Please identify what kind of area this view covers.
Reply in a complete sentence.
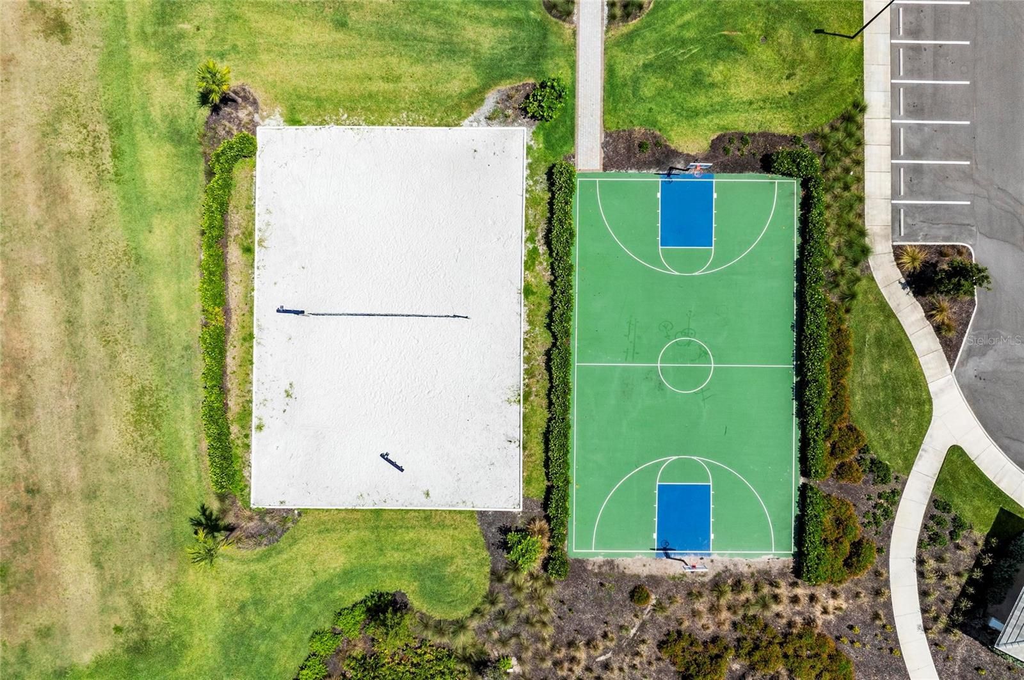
What you see here is a sports ground.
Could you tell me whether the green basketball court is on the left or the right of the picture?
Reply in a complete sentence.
It is on the right.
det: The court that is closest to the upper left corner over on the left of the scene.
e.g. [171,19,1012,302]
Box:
[250,126,526,511]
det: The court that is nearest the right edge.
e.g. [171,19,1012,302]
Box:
[568,173,800,558]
